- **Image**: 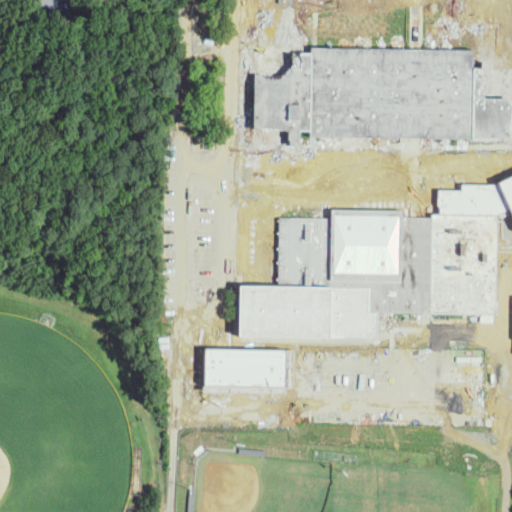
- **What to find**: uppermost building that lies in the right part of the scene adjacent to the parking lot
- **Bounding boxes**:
[254,49,512,148]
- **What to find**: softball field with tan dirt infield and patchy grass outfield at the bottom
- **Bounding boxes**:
[195,453,500,512]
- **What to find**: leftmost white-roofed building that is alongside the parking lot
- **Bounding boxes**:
[203,348,288,394]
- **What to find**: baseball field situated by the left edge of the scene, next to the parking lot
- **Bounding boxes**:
[0,314,131,512]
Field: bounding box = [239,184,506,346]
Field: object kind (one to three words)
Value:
building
